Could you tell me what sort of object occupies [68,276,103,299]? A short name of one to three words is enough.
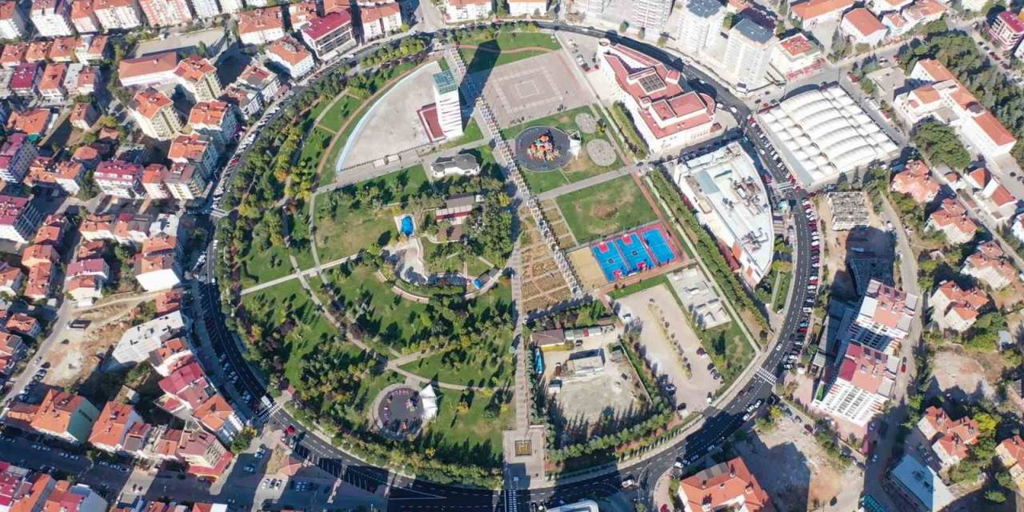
house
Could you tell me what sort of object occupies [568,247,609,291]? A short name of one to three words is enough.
sports court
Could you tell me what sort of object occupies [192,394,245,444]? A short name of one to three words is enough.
building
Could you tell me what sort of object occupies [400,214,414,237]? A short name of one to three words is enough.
swimming pool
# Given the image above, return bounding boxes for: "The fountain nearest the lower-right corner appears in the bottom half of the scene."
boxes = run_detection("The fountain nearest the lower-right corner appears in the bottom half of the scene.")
[514,439,534,456]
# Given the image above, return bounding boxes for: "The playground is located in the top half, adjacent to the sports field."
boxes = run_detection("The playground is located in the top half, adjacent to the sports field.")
[514,125,571,172]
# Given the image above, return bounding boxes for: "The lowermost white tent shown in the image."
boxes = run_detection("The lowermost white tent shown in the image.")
[419,383,437,417]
